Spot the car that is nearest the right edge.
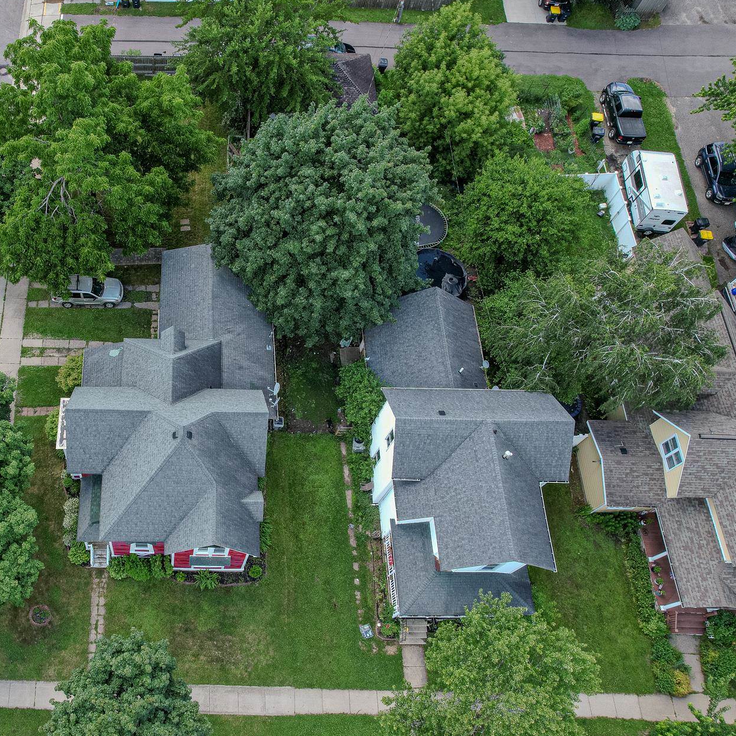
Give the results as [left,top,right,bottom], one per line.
[699,145,736,206]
